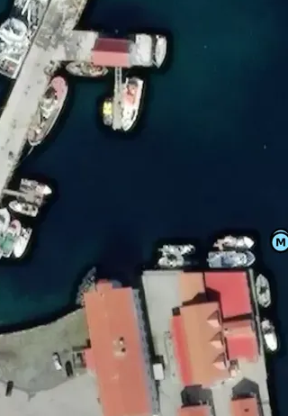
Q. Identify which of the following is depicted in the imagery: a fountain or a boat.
boat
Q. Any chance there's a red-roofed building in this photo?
Yes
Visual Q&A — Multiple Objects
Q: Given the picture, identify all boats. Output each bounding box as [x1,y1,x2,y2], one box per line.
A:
[65,63,109,79]
[161,243,195,254]
[256,273,271,308]
[16,226,35,259]
[0,220,21,262]
[20,176,52,193]
[0,207,9,242]
[28,76,64,146]
[102,99,113,127]
[216,238,254,250]
[154,35,168,68]
[208,251,255,269]
[8,202,39,219]
[119,78,145,131]
[157,254,185,268]
[261,320,275,352]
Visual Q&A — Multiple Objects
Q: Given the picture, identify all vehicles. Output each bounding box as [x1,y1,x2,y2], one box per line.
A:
[53,355,62,370]
[65,362,73,376]
[6,382,13,395]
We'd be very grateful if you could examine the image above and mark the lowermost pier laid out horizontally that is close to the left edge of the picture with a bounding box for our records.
[3,189,42,205]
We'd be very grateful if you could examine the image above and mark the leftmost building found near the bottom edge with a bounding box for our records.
[75,281,159,416]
